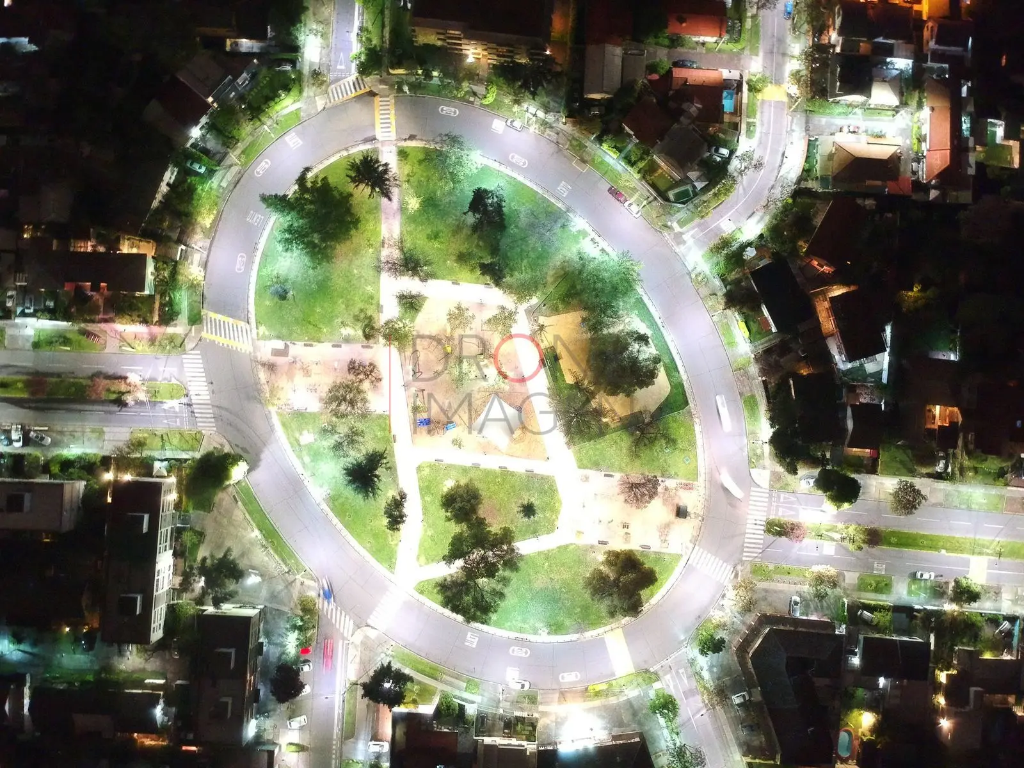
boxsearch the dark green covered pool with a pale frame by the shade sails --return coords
[670,184,694,201]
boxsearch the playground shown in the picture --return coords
[401,299,549,460]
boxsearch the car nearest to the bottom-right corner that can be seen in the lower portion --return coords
[995,620,1011,636]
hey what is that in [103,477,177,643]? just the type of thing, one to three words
building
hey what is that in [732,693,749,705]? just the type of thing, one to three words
vehicle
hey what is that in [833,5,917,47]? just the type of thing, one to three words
house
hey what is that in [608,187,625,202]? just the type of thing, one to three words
car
